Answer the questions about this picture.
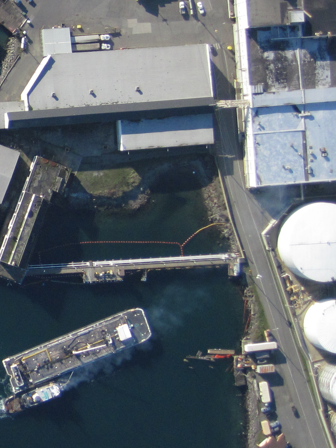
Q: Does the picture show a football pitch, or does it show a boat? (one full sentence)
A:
This aerial view contains a boat.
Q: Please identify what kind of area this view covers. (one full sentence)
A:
The area seen from above is an industrial area.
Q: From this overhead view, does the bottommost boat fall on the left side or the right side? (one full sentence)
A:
It is on the left.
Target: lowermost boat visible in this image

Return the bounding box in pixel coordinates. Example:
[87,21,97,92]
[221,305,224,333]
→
[2,383,61,414]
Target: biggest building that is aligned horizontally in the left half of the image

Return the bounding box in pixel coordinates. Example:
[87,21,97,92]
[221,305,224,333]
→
[4,44,214,121]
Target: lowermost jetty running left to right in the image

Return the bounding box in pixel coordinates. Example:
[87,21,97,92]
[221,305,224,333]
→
[25,250,229,275]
